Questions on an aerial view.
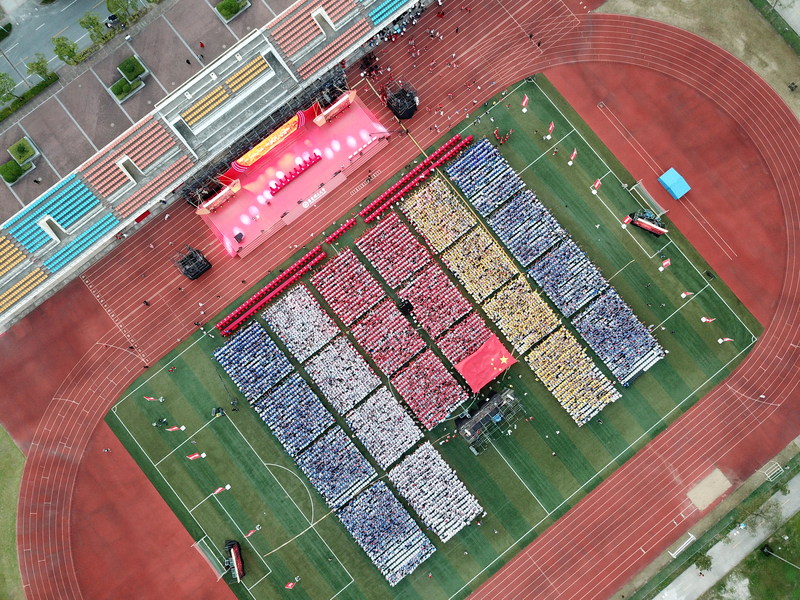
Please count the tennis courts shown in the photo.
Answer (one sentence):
There are no tennis courts in this view.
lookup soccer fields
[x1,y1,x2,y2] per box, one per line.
[103,72,765,600]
